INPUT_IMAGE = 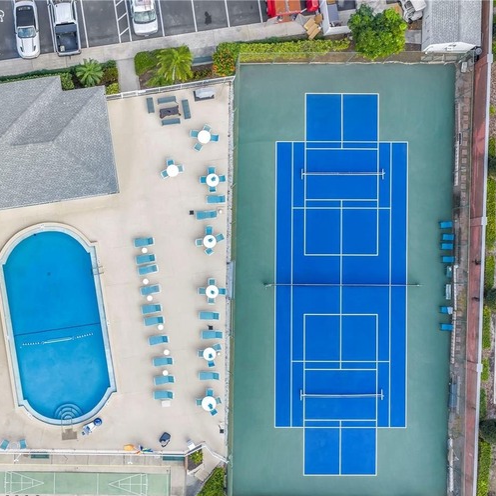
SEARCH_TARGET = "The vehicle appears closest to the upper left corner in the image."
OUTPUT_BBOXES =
[11,0,41,61]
